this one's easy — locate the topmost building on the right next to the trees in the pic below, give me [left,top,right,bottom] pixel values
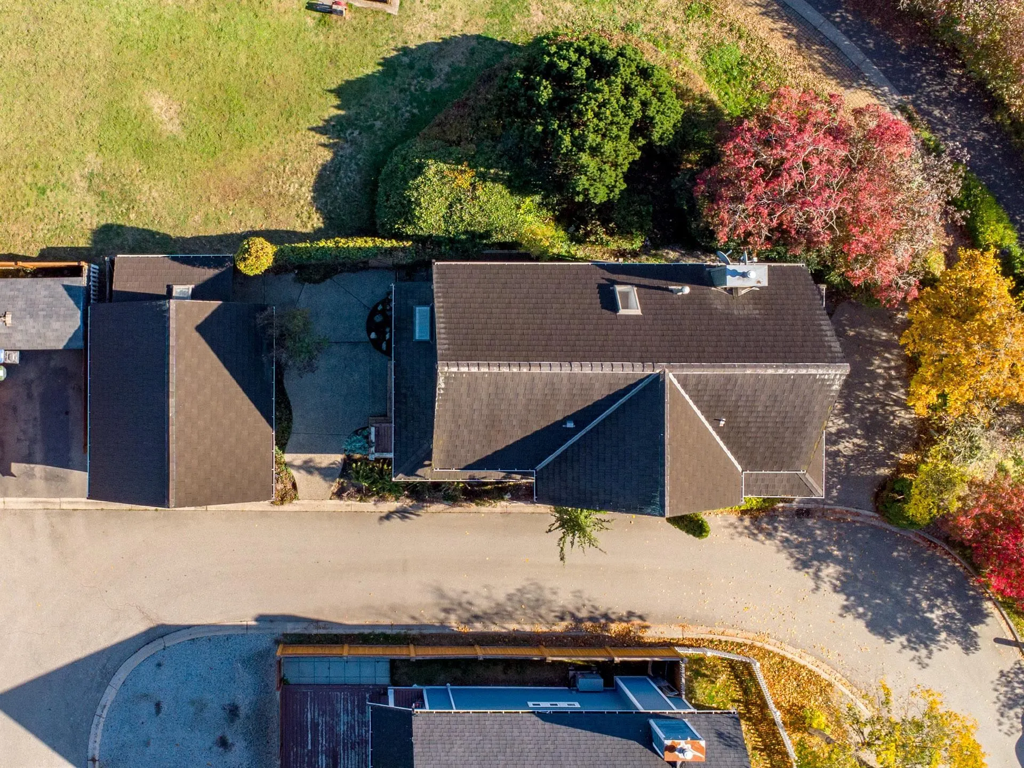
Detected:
[390,260,851,514]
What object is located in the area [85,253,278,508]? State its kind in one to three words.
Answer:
building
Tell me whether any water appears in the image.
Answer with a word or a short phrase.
No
